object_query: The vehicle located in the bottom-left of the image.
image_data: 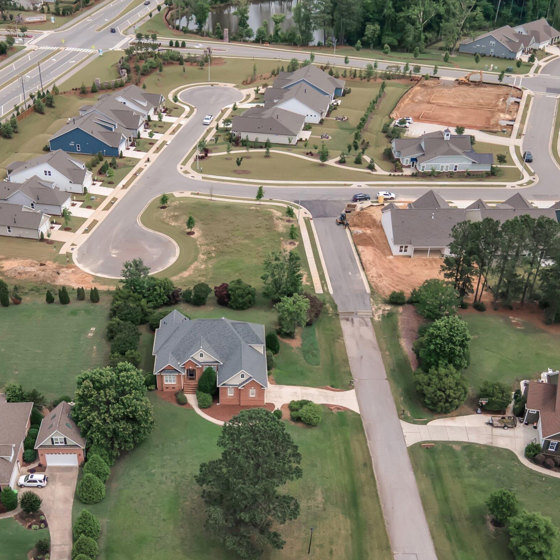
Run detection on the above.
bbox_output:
[16,472,50,489]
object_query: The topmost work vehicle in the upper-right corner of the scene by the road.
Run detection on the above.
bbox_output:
[455,67,490,86]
